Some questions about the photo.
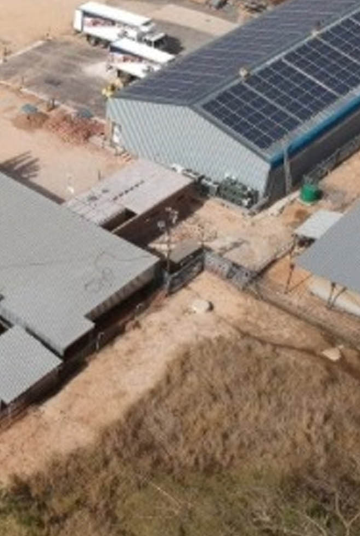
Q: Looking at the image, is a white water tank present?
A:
No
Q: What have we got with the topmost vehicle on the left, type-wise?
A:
truck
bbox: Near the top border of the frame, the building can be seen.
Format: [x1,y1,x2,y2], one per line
[105,0,360,202]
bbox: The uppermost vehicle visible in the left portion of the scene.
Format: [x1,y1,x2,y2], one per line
[84,2,170,53]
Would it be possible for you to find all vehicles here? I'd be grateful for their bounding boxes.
[84,2,170,53]
[105,37,176,79]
